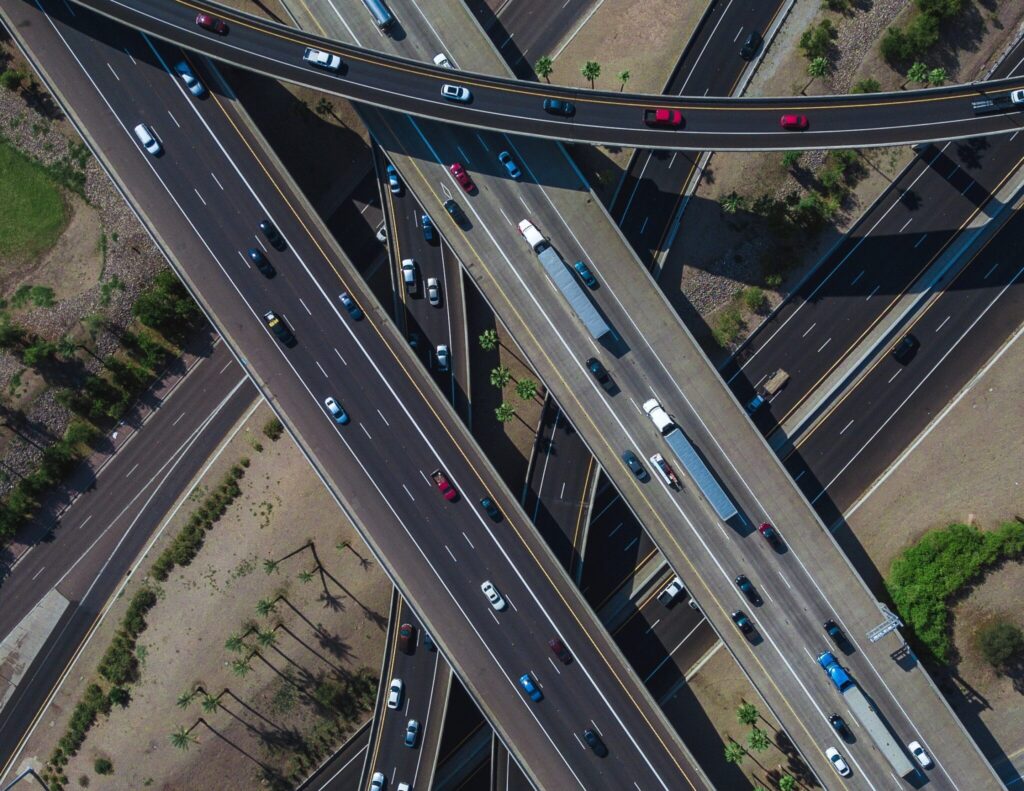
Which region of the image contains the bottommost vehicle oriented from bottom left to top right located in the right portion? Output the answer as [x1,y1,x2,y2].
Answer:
[655,577,683,606]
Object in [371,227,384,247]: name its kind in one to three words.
vehicle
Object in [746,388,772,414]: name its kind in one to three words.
truck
